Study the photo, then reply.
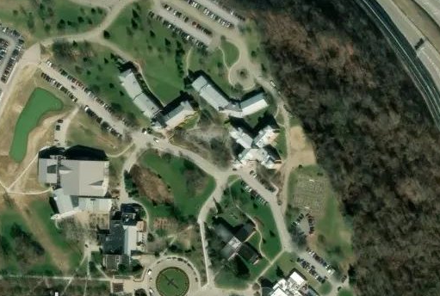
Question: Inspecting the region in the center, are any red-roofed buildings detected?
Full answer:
No, there's no red-roofed building to be seen in the center.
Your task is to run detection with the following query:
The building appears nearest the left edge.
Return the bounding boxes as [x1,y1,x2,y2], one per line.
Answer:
[38,159,116,219]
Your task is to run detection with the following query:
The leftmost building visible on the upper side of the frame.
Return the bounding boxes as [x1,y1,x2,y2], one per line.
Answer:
[120,70,201,130]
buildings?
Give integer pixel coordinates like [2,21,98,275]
[229,126,287,172]
[214,222,266,266]
[38,159,116,219]
[192,76,273,118]
[103,208,146,271]
[271,272,312,296]
[120,70,201,130]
